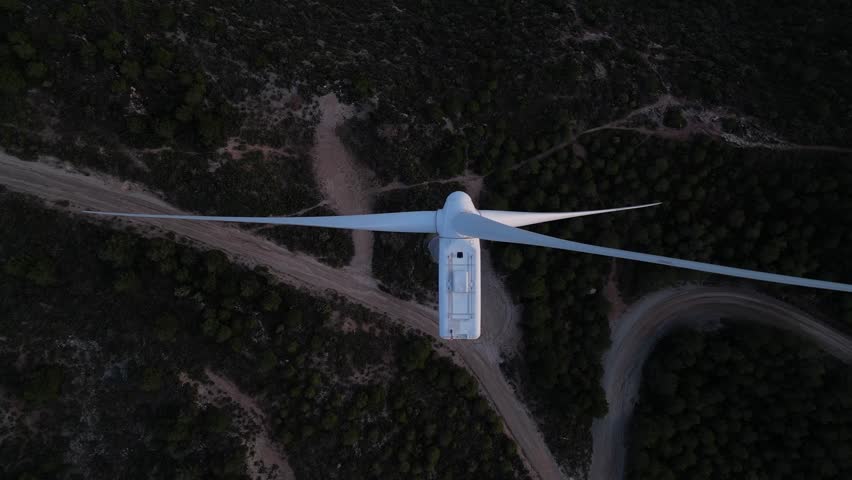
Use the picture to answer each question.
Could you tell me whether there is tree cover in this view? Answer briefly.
Yes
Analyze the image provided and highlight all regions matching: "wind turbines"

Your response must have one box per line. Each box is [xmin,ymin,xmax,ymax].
[89,192,852,339]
